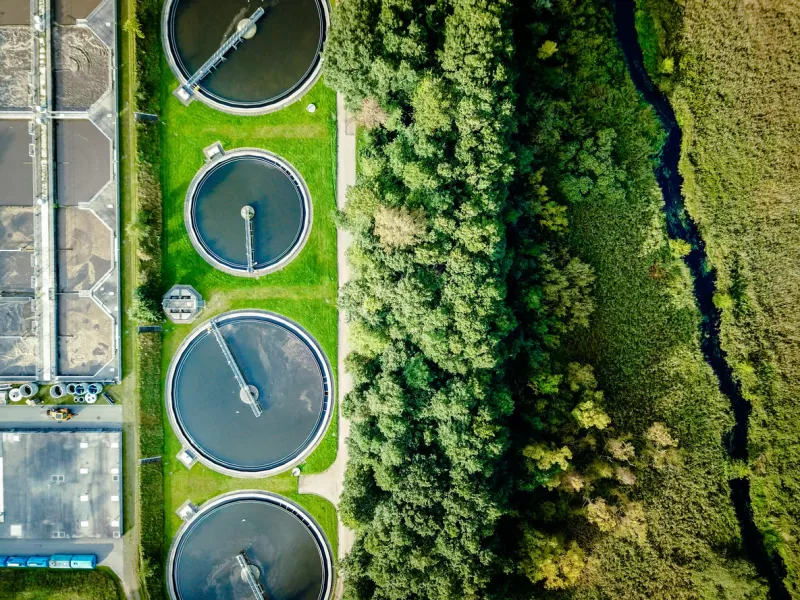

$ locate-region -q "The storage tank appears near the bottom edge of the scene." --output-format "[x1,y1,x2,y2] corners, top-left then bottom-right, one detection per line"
[166,490,334,600]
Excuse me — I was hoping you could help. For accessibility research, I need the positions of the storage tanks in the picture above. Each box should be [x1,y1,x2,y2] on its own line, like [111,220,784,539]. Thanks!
[183,142,312,276]
[166,490,334,600]
[162,0,330,115]
[165,309,334,479]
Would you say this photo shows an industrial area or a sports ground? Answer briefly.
industrial area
